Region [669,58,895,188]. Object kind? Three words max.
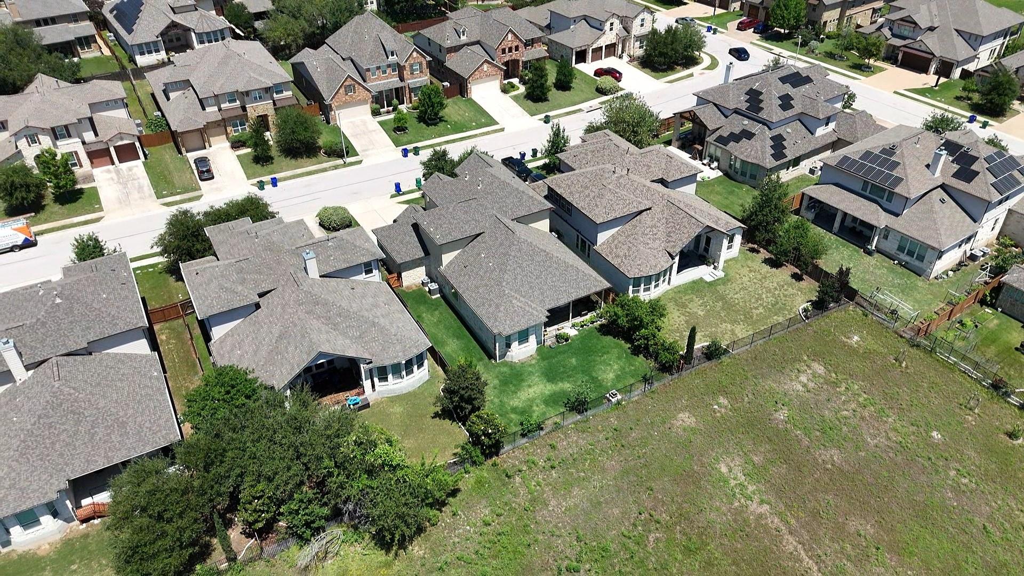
house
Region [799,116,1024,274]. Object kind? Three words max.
house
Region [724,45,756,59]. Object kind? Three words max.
car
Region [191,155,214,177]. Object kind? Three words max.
car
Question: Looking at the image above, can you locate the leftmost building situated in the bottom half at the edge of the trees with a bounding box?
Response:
[0,250,184,550]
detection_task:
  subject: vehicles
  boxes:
[672,13,700,23]
[735,15,759,30]
[499,150,532,177]
[724,45,756,59]
[524,164,549,183]
[191,155,214,177]
[0,214,45,250]
[750,19,777,32]
[590,63,623,77]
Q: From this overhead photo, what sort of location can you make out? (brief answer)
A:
residential area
